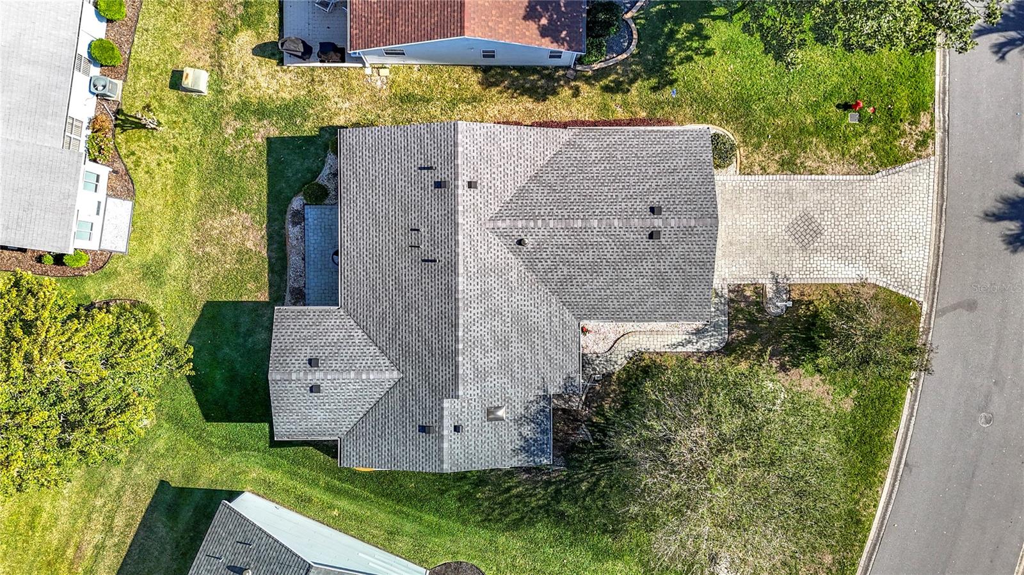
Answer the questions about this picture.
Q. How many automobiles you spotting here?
0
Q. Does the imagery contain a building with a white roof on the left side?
Yes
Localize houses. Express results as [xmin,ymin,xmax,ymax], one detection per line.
[267,120,719,476]
[0,0,113,256]
[346,0,588,74]
[192,492,430,575]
